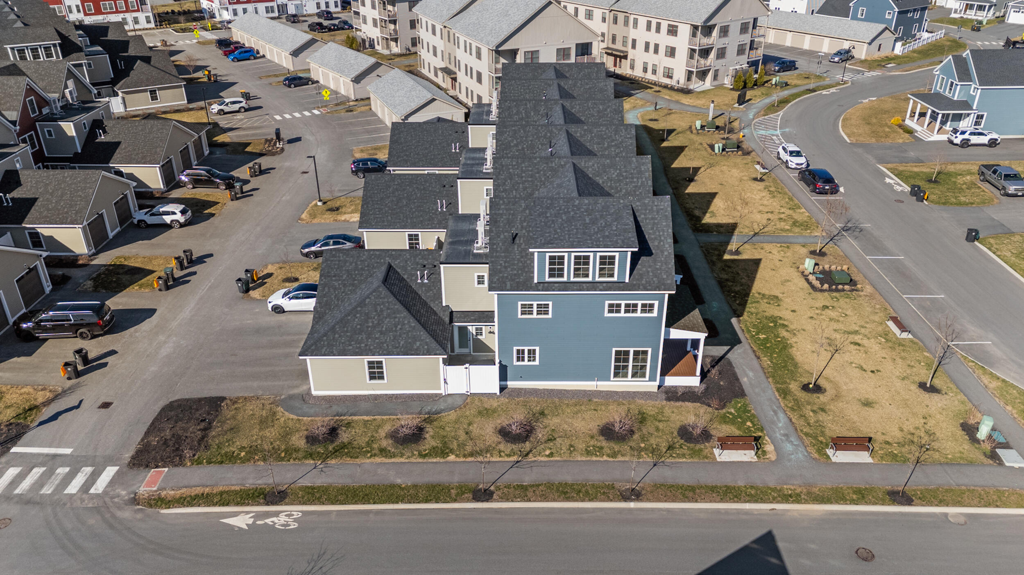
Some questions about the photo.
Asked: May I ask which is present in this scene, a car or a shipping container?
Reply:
car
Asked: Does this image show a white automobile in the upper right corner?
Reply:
Yes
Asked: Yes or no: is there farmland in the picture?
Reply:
No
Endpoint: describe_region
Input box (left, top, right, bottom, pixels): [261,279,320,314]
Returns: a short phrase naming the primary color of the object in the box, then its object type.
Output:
white car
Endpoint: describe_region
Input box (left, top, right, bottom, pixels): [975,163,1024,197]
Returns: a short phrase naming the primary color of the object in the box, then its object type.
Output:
gray truck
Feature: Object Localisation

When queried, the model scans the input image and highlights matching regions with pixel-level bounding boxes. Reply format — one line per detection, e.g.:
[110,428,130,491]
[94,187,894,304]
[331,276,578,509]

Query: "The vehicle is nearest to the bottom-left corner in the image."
[7,298,121,343]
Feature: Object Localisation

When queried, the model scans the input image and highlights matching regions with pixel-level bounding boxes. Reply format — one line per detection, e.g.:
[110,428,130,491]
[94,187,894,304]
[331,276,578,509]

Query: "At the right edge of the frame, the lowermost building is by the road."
[906,47,1024,140]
